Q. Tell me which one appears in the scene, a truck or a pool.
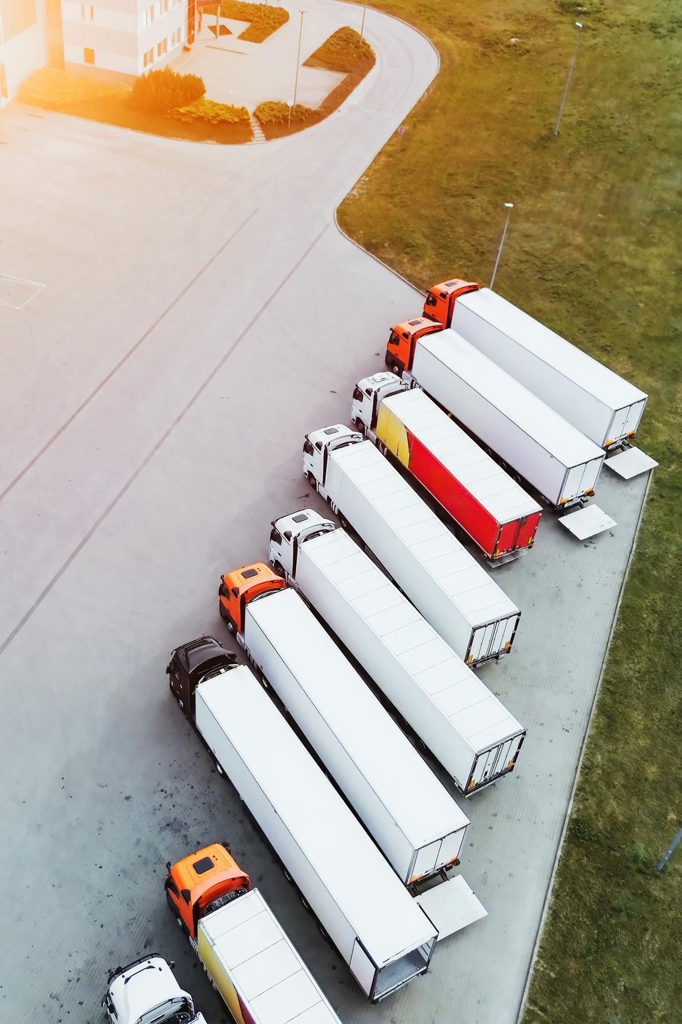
truck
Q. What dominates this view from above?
paved ground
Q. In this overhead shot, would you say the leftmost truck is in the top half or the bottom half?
bottom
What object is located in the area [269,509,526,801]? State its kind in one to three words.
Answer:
truck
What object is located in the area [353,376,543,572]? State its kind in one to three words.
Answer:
truck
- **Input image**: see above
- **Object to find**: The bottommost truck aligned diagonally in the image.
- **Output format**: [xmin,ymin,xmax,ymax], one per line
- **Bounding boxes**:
[161,844,347,1024]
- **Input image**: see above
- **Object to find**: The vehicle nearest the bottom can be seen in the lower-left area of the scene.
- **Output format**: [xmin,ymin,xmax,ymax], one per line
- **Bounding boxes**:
[97,958,206,1024]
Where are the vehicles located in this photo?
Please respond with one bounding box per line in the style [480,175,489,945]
[303,426,521,671]
[218,566,488,941]
[167,638,441,1009]
[161,844,347,1024]
[353,376,543,572]
[269,509,526,801]
[97,958,206,1024]
[425,280,659,479]
[387,320,616,541]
